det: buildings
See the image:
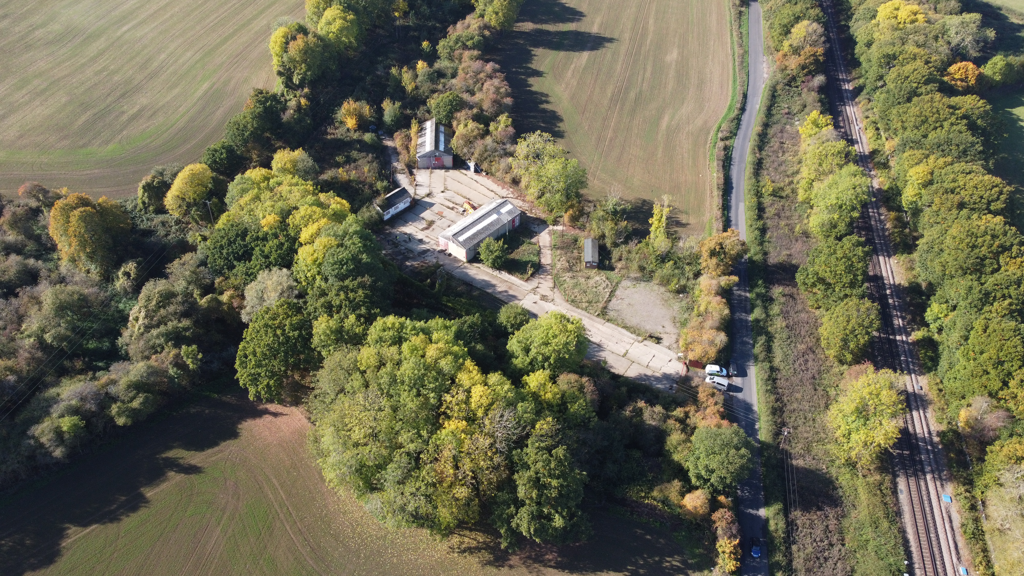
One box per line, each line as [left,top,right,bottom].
[438,198,523,261]
[583,238,599,270]
[416,116,454,169]
[369,188,412,221]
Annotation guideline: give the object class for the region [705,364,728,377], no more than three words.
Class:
vehicle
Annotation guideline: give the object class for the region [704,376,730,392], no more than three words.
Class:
vehicle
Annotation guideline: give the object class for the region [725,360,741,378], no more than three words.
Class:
car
